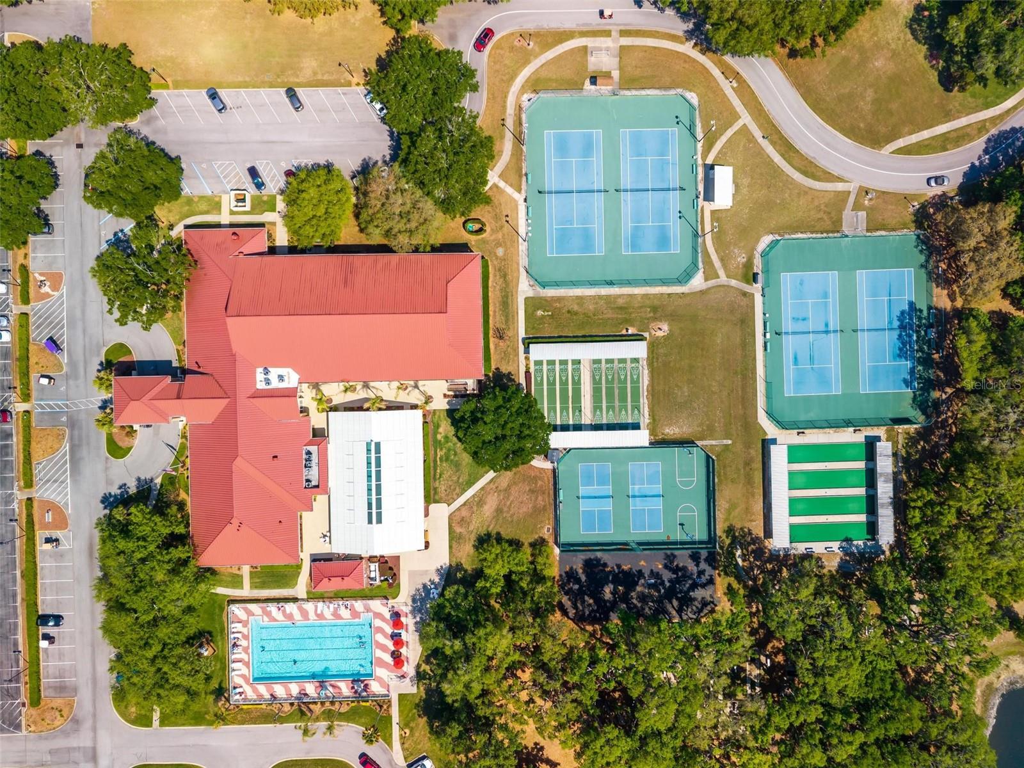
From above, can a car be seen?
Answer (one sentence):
Yes, a car appears in the view.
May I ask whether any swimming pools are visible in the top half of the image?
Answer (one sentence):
No, no swimming pool appears in the top half of the image.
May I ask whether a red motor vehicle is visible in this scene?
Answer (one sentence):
Yes, a red motor vehicle appears in the view.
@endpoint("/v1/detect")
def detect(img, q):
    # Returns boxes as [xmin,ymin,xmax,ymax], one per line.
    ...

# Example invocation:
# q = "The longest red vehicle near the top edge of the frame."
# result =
[475,28,494,54]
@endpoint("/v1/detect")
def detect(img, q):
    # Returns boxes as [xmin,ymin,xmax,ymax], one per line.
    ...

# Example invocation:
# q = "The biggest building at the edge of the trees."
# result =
[113,227,484,567]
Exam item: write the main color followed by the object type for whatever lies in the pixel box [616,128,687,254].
blue tennis court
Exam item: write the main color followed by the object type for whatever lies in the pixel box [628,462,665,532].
blue sports court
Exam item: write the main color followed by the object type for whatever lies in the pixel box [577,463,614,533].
blue sports court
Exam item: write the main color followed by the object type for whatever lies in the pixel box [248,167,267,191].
blue car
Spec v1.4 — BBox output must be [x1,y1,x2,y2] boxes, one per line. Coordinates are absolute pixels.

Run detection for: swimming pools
[231,600,408,703]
